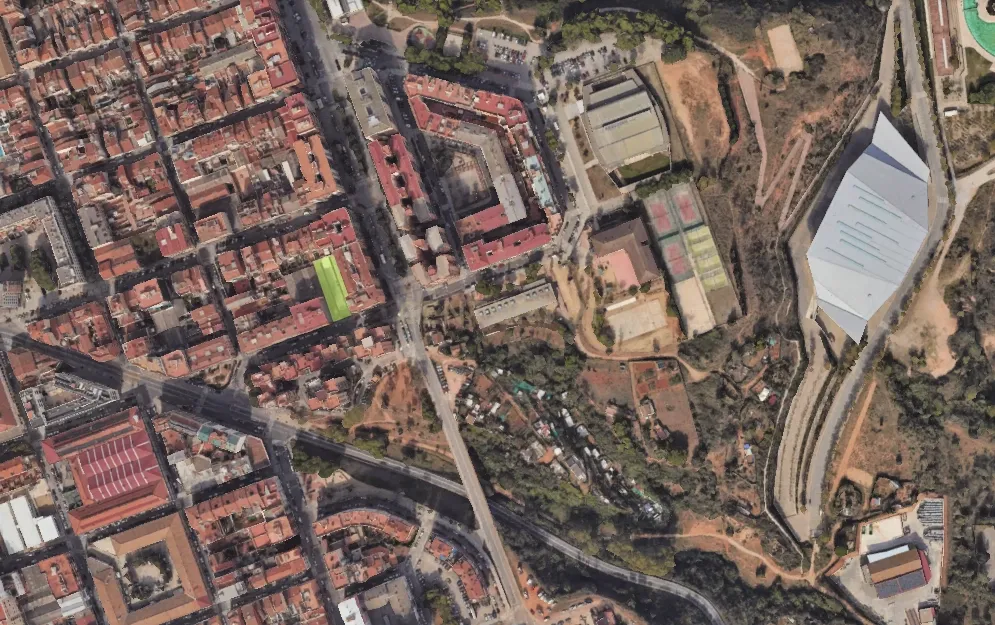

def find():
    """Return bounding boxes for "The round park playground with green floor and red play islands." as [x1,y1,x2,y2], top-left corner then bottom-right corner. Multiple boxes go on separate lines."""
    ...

[409,24,432,51]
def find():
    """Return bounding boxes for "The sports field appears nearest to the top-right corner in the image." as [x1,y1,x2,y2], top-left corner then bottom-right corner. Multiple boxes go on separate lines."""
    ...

[769,25,803,77]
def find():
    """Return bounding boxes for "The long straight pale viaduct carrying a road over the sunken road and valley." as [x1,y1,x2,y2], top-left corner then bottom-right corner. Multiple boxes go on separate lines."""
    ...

[394,294,533,625]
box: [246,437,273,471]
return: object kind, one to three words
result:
house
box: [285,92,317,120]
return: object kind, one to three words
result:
building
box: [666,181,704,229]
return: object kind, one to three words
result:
tennis court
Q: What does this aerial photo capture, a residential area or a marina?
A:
residential area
